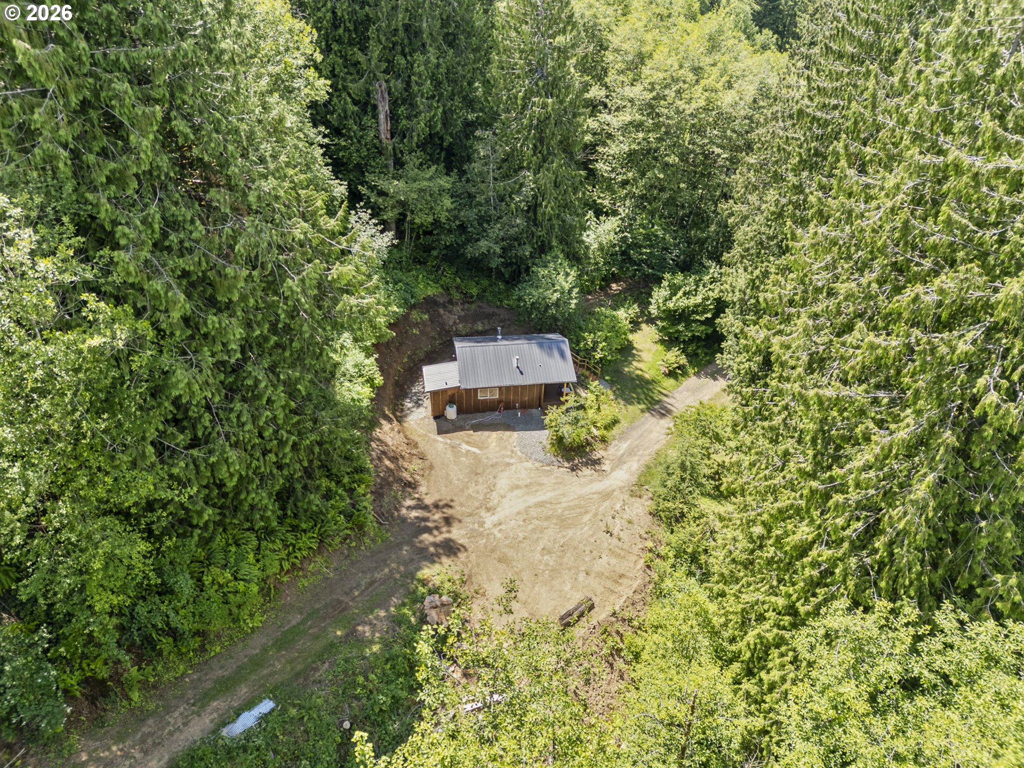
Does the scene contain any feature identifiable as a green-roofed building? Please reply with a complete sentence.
No, the scene contains no green-roofed building.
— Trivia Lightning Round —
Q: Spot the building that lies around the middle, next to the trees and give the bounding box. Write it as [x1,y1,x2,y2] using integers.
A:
[423,326,575,419]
